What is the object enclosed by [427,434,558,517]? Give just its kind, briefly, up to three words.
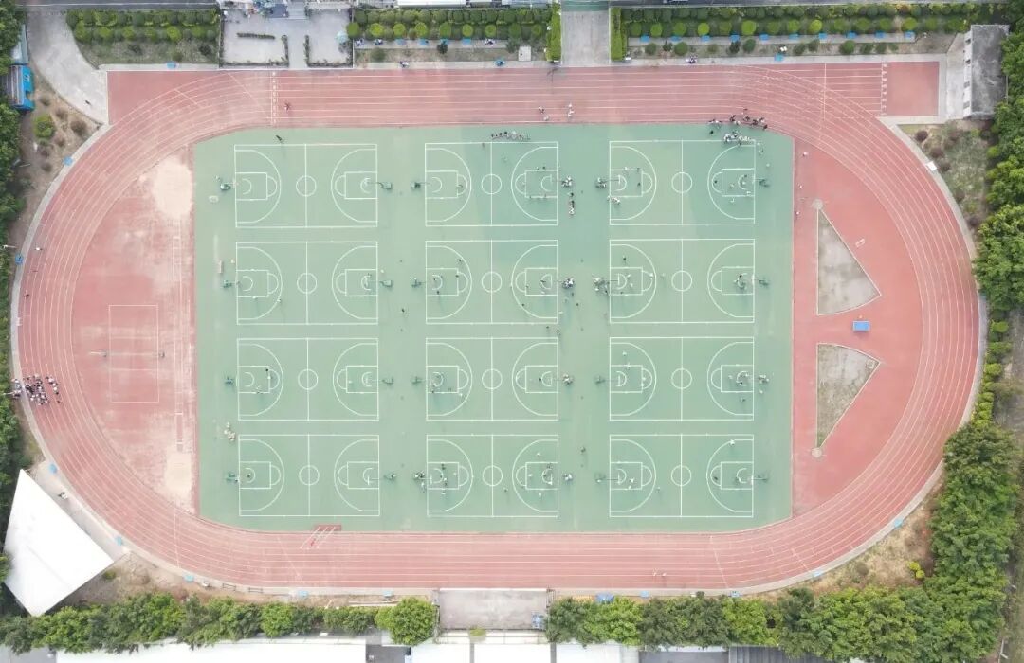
basketball court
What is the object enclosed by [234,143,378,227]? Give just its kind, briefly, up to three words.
basketball court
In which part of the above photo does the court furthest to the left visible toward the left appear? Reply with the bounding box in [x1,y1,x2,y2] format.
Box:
[109,305,159,402]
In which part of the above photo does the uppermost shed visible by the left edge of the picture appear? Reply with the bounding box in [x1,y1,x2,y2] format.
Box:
[12,24,36,66]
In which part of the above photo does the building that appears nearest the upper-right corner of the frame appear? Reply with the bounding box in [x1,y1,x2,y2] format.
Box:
[964,23,1010,116]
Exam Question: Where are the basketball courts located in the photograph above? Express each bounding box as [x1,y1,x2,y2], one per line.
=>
[609,337,754,421]
[234,143,378,227]
[425,141,558,226]
[236,240,378,324]
[427,434,558,517]
[609,239,755,323]
[238,435,380,516]
[237,338,379,421]
[426,338,558,421]
[425,239,558,324]
[609,434,754,517]
[610,139,755,225]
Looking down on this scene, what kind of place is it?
sports ground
